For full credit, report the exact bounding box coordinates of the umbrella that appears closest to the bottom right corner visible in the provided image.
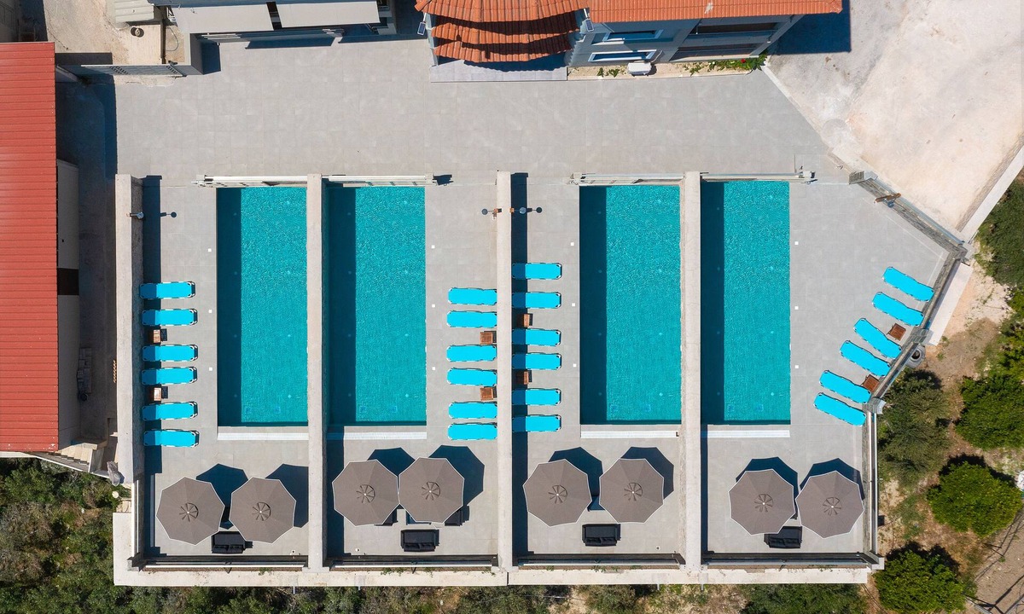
[796,470,864,539]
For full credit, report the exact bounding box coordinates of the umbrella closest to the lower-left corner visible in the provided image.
[156,476,225,545]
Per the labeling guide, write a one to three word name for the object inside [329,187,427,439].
swimming pool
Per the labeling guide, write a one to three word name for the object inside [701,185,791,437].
swimming pool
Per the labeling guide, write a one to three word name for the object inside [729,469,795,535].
umbrella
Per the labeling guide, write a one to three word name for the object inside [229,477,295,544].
umbrella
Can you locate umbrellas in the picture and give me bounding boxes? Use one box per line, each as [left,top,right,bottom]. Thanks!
[599,459,664,524]
[729,469,795,535]
[398,458,464,524]
[333,460,399,526]
[524,459,591,526]
[229,477,295,544]
[796,470,864,539]
[156,476,225,545]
